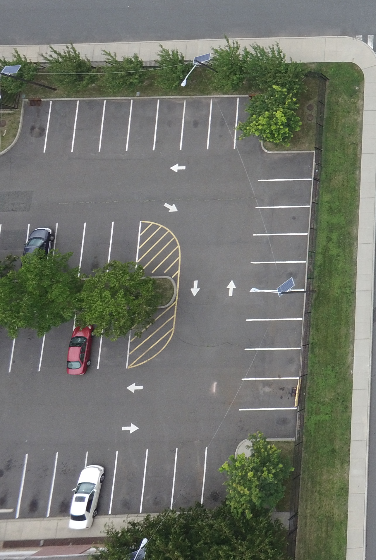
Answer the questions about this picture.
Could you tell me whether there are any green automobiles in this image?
No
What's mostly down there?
paved ground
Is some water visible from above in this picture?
No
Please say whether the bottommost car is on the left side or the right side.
left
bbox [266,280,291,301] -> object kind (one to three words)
solar panel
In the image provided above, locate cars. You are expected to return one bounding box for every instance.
[69,464,106,530]
[65,326,93,374]
[21,230,57,269]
